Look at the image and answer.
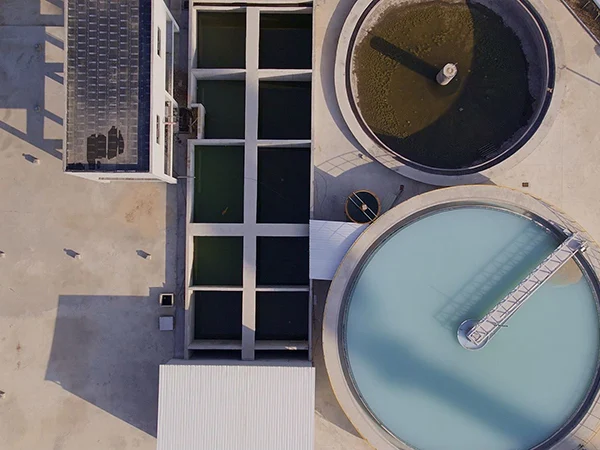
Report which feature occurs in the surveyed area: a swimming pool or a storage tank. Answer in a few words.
storage tank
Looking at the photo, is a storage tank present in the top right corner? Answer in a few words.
Yes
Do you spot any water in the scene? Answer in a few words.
Yes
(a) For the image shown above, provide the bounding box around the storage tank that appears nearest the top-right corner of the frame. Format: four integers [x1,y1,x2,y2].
[334,0,567,188]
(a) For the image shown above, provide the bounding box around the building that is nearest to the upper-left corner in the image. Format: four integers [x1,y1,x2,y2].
[63,0,178,183]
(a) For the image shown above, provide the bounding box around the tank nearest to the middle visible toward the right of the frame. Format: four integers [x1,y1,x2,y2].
[344,189,380,223]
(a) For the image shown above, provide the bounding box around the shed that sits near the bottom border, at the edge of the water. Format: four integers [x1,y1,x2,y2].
[158,354,314,450]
